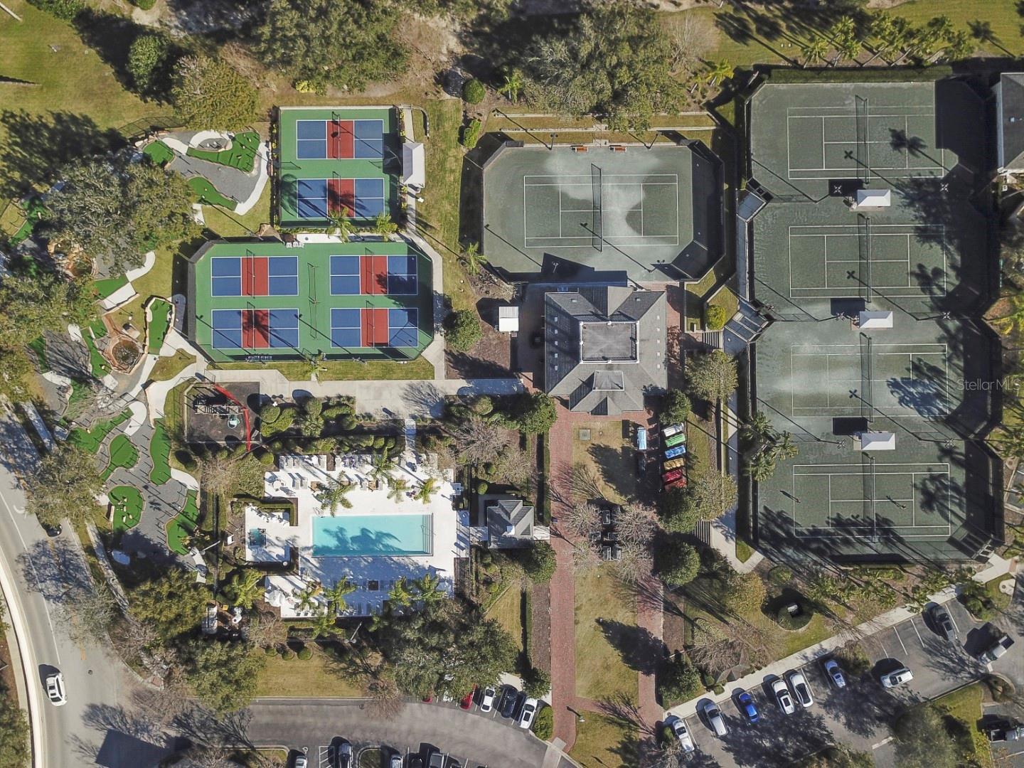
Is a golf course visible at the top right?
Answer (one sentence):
No, I can find no golf course at the top right.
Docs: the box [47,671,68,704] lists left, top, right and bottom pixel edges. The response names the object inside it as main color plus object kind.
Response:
white car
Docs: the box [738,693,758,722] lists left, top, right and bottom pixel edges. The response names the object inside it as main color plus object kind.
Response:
blue car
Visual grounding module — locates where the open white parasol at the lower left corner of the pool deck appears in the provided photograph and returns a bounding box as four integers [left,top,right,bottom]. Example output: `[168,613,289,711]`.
[264,588,285,609]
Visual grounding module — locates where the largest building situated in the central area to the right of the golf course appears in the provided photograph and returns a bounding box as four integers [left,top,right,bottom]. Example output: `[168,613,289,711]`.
[545,287,668,415]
